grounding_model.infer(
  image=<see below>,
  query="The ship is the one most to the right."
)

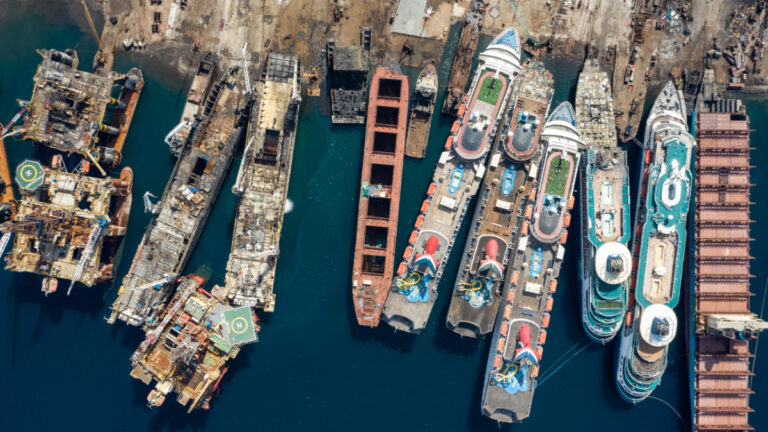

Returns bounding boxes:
[683,66,768,432]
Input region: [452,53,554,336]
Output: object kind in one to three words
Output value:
ship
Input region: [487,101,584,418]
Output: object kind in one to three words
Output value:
ship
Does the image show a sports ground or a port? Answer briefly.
port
